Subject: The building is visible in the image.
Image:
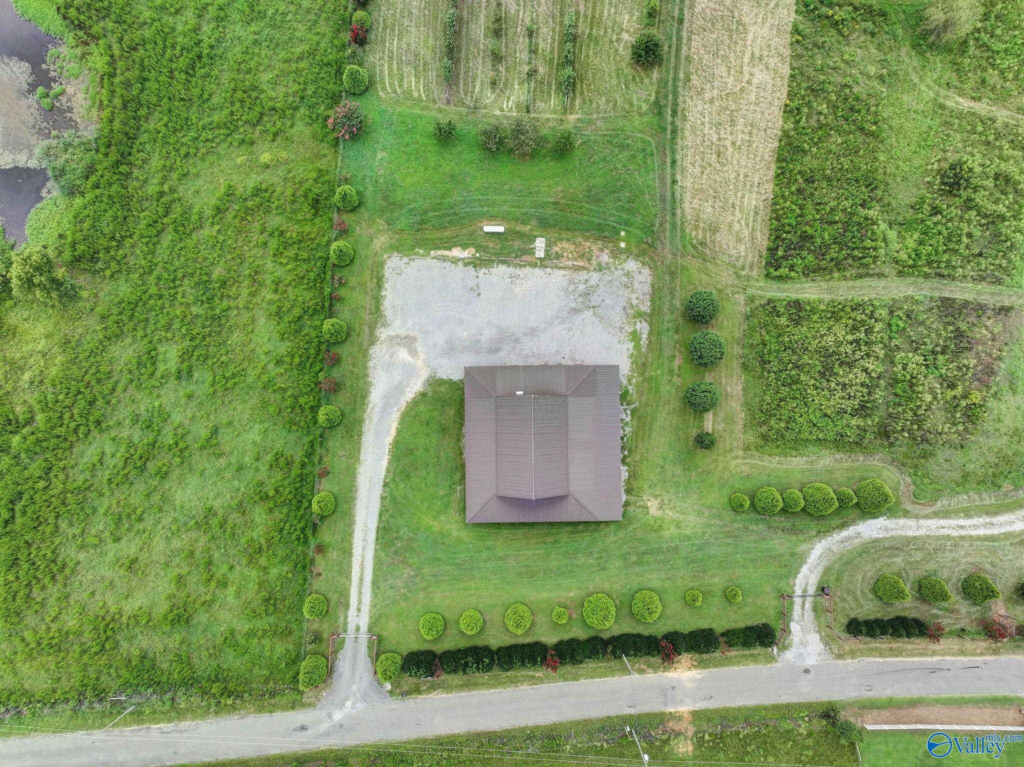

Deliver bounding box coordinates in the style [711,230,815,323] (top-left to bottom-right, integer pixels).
[464,363,622,523]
